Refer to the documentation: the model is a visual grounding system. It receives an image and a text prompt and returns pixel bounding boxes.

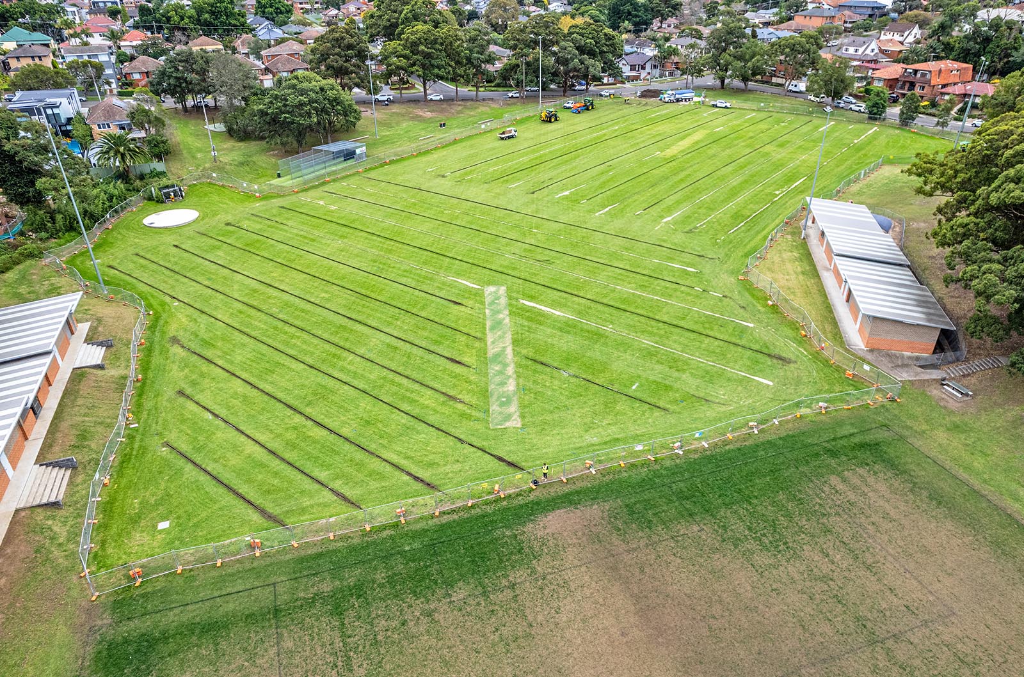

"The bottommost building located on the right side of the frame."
[805,195,957,352]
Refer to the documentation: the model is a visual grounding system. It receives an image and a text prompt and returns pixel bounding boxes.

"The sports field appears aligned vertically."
[483,285,522,429]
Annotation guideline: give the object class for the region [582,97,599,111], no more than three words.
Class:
work vehicle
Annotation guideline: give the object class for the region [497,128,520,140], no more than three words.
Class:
vehicle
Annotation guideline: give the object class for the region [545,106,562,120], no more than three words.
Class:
work vehicle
